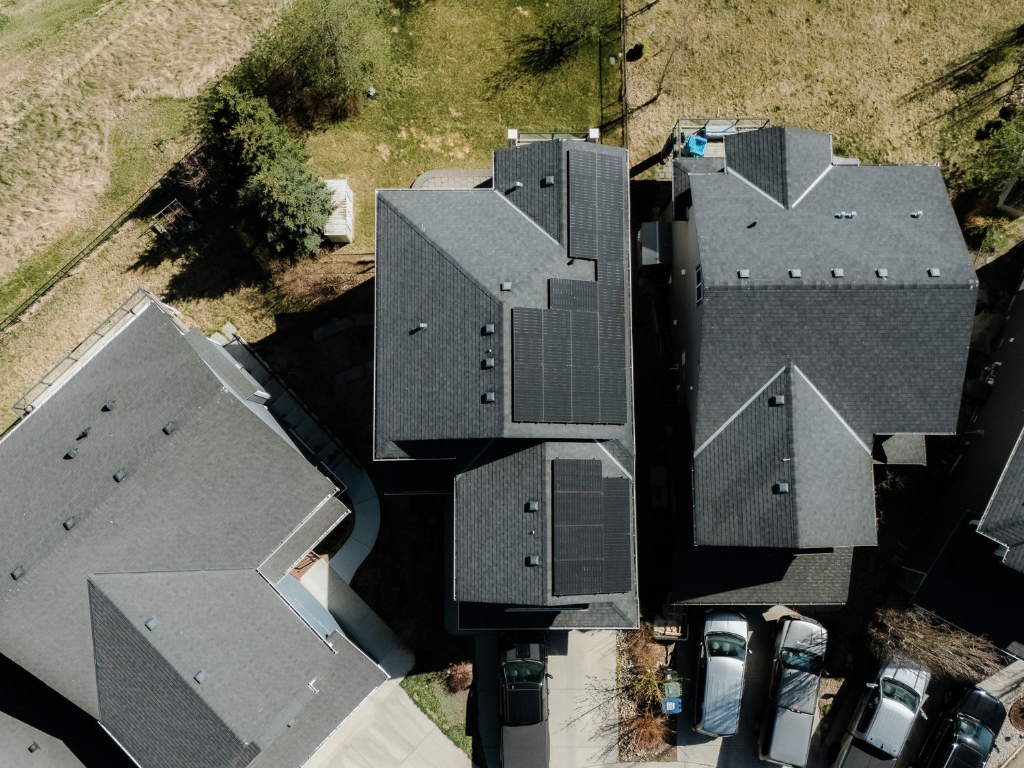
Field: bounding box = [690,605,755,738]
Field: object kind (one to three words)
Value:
car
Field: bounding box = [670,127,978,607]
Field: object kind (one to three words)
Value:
house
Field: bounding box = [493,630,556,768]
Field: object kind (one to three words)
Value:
truck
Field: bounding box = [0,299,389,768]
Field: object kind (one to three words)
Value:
house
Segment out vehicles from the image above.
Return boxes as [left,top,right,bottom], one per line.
[828,646,933,768]
[493,630,556,768]
[917,679,1005,768]
[758,611,835,761]
[690,605,755,738]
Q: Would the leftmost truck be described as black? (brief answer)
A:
Yes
